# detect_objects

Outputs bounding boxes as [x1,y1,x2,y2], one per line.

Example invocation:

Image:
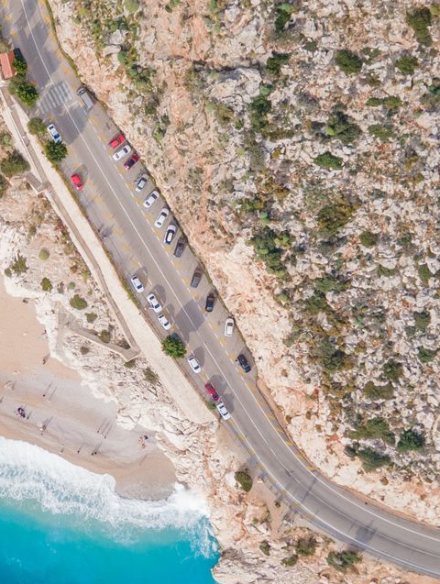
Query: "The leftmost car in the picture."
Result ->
[47,124,62,143]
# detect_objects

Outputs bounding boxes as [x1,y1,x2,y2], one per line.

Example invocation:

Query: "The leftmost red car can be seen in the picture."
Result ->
[69,173,83,191]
